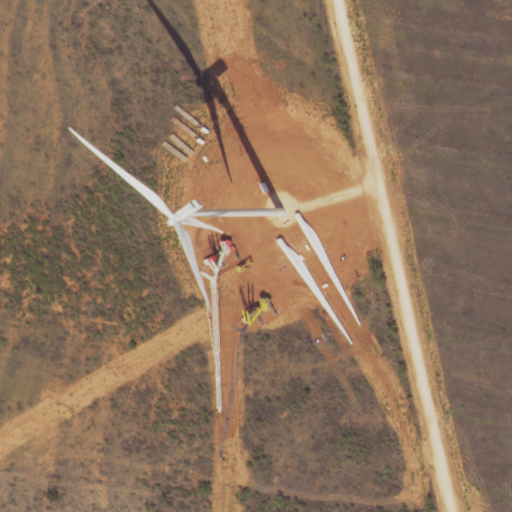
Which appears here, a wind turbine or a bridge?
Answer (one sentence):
It is a wind turbine that can be seen here.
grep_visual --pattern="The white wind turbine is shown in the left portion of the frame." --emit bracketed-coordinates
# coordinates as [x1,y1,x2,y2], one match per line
[71,127,290,312]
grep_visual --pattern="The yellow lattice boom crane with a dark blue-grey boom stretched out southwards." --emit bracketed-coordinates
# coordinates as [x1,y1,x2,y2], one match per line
[220,288,278,453]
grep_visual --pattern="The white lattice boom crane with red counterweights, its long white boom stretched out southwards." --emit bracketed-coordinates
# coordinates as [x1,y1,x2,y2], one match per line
[202,232,241,412]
